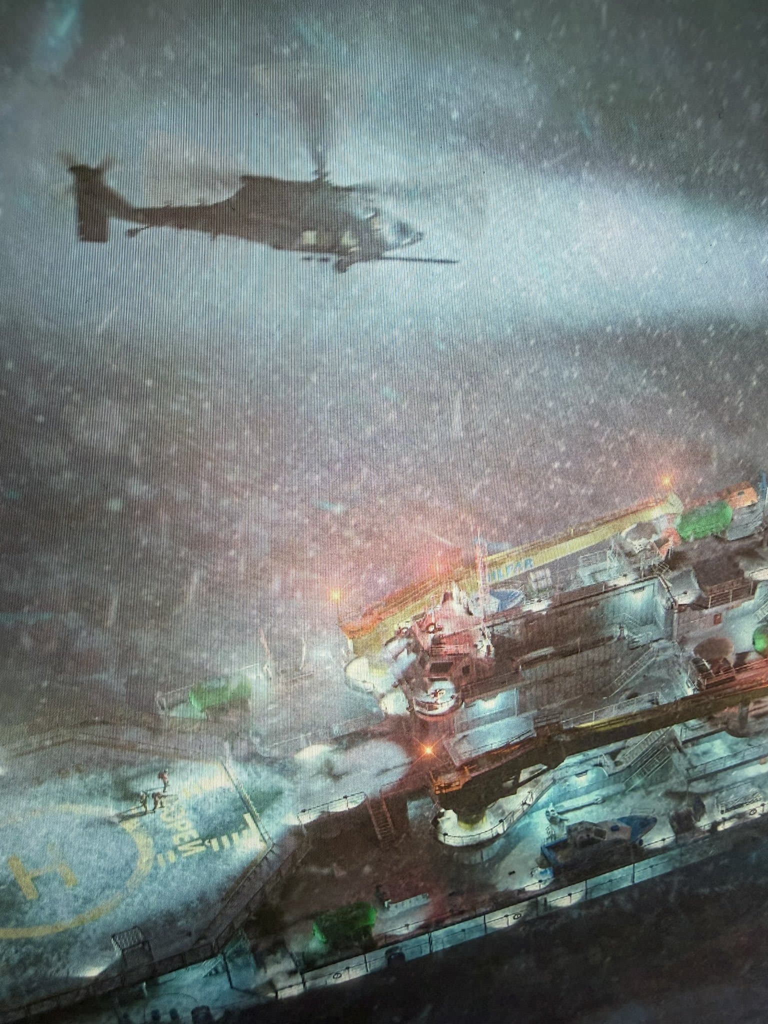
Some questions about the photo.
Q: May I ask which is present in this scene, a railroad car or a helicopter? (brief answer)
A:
helicopter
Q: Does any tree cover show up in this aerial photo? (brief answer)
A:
No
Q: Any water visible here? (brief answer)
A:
Yes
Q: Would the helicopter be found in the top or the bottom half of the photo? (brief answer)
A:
top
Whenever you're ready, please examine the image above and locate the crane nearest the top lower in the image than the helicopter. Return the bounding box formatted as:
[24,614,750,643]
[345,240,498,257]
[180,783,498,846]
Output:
[316,484,702,709]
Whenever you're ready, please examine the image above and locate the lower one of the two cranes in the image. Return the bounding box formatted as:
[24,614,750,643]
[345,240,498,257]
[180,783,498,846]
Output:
[421,658,768,839]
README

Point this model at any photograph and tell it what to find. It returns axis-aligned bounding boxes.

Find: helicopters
[51,92,511,270]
